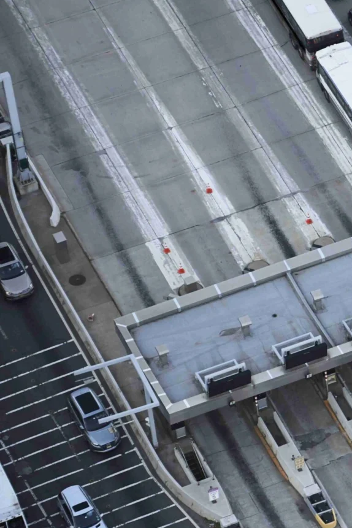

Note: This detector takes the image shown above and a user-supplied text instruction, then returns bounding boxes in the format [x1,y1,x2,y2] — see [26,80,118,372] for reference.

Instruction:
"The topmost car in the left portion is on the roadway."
[0,240,36,296]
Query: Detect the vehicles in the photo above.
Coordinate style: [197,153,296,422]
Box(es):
[0,240,36,296]
[313,51,352,132]
[0,472,26,528]
[268,0,344,71]
[67,388,121,451]
[58,485,108,528]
